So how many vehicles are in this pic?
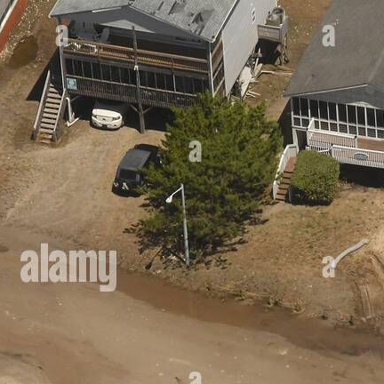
2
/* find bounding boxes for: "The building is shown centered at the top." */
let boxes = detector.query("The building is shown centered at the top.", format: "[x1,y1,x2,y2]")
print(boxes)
[30,0,296,139]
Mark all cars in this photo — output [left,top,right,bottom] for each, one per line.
[115,139,163,187]
[88,101,131,126]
